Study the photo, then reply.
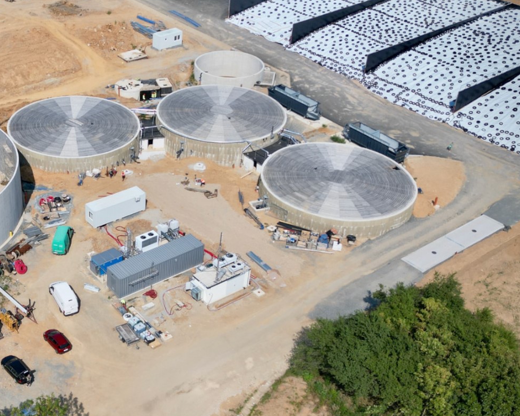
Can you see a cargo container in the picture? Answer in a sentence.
Yes, there is a cargo container in the image.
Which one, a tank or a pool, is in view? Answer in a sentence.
I can see a tank in this picture.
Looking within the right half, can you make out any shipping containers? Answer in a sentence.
No, no shipping container is visible within the right half.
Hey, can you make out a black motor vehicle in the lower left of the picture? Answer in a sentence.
Yes, in the lower left of the picture there is a black motor vehicle.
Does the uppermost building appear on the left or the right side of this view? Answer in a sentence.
The uppermost building appears in the left half of the scene.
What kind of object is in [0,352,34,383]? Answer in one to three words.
car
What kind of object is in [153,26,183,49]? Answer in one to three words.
building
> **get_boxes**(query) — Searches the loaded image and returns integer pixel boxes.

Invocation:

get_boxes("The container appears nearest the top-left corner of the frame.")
[86,185,146,227]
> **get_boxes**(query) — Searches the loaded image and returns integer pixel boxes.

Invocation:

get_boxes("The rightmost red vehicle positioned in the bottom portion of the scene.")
[40,324,72,353]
